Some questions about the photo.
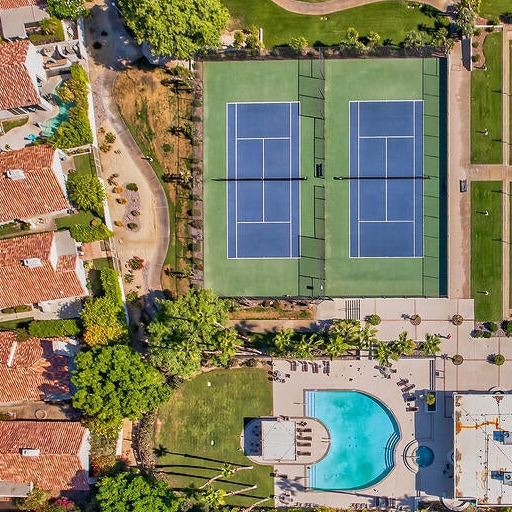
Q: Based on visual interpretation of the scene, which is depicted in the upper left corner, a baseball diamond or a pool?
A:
pool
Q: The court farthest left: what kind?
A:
tennis court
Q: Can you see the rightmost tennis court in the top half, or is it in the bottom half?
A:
top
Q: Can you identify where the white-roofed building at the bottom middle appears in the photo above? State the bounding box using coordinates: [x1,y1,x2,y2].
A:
[261,421,301,461]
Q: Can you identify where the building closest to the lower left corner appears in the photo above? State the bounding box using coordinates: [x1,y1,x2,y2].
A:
[0,421,96,496]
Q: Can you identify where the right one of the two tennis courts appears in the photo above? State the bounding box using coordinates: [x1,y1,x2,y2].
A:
[325,60,448,297]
